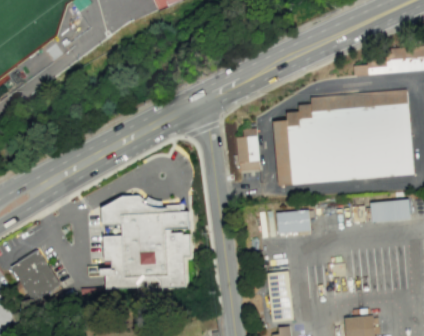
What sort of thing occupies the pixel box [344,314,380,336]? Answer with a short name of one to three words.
building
